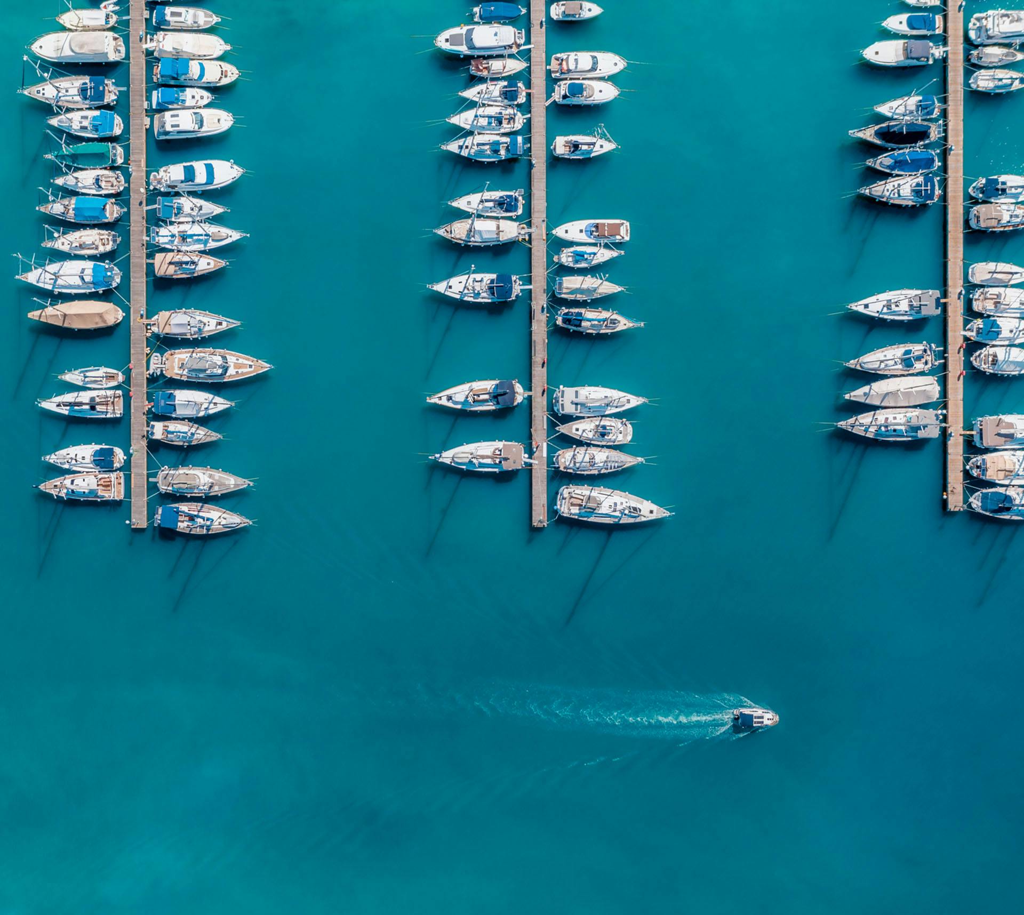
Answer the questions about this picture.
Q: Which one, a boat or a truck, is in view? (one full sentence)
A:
Visible in the photo is a boat.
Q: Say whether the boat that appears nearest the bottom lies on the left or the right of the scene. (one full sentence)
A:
The boat that appears nearest the bottom appears in the right half of the scene.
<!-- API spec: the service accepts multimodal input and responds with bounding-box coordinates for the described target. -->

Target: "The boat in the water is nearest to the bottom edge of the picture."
[732,708,781,728]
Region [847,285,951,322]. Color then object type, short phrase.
white boat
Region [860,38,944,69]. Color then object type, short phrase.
white boat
